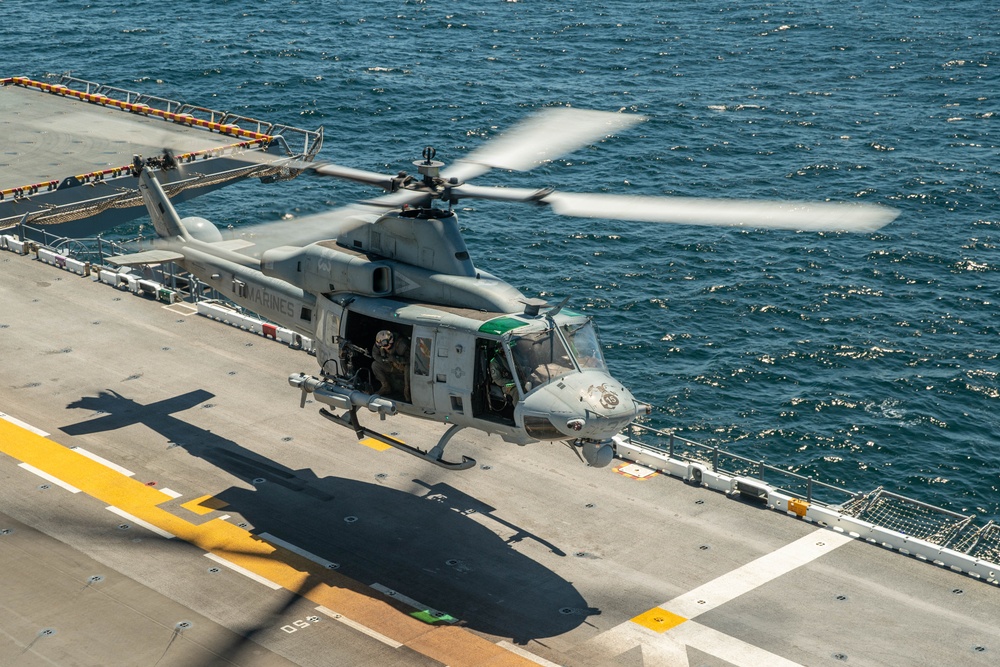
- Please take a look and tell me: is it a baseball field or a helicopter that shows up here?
helicopter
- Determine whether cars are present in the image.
No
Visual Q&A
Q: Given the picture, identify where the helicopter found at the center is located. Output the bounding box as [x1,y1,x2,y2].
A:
[42,107,893,473]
